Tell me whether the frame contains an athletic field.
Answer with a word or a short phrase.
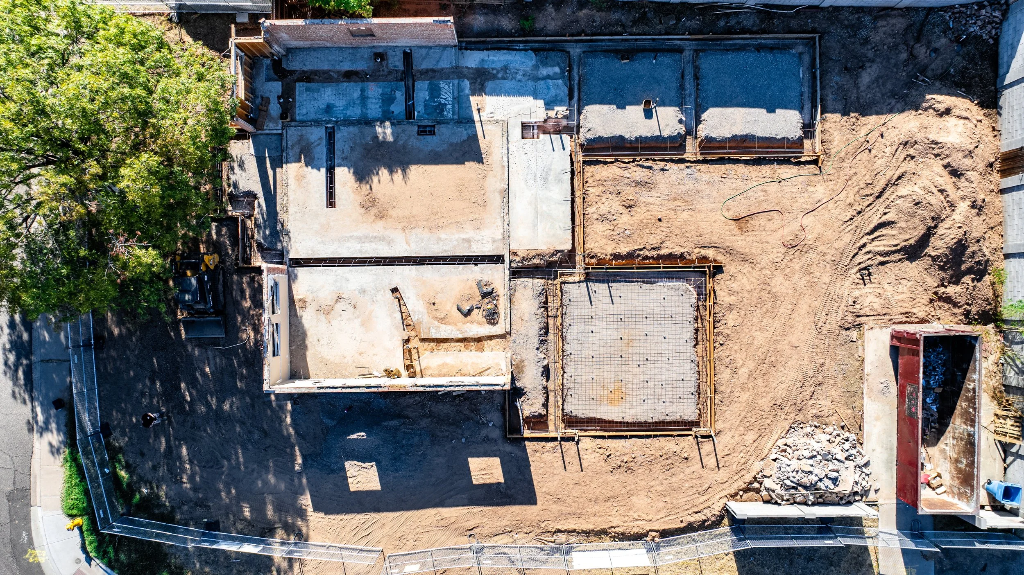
No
